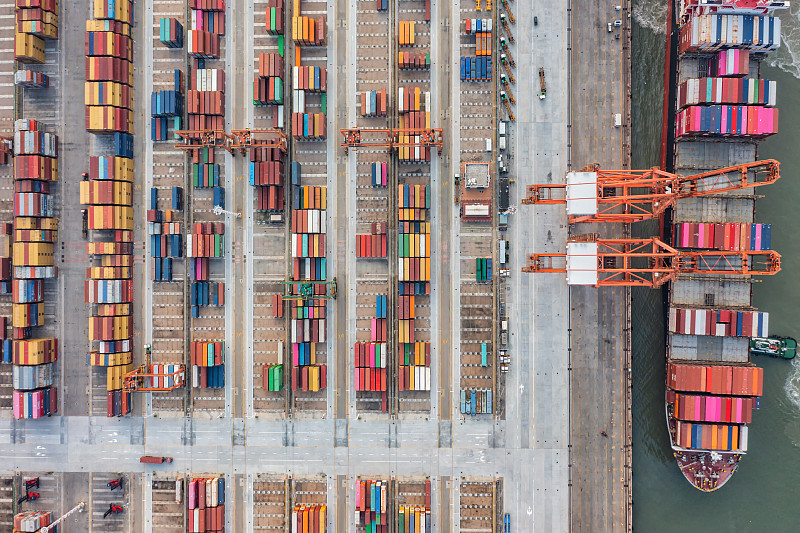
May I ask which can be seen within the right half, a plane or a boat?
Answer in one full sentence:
It is a boat that can be seen within the right half.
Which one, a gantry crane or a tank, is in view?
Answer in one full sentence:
The image shows a gantry crane.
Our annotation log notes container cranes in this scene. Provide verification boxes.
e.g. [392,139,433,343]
[525,235,786,291]
[230,127,287,155]
[525,158,786,229]
[173,128,234,156]
[390,126,445,155]
[280,279,338,301]
[338,126,392,154]
[121,364,187,391]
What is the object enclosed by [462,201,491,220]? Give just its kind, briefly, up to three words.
building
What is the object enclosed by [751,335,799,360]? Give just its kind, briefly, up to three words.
boat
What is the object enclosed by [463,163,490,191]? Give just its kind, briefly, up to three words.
building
